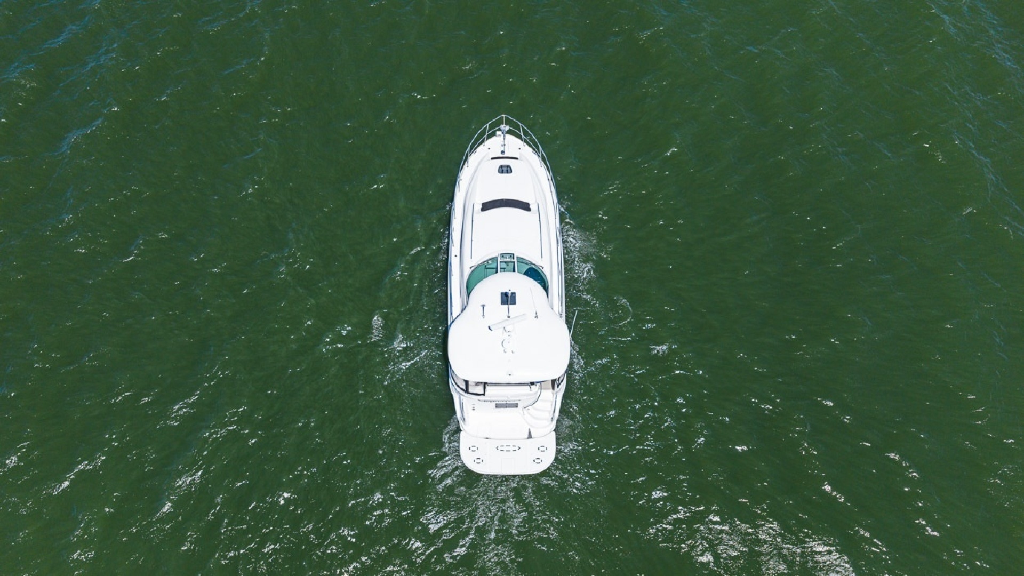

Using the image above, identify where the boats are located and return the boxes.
[447,114,577,475]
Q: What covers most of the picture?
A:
water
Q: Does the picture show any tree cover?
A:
No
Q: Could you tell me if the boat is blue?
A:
No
